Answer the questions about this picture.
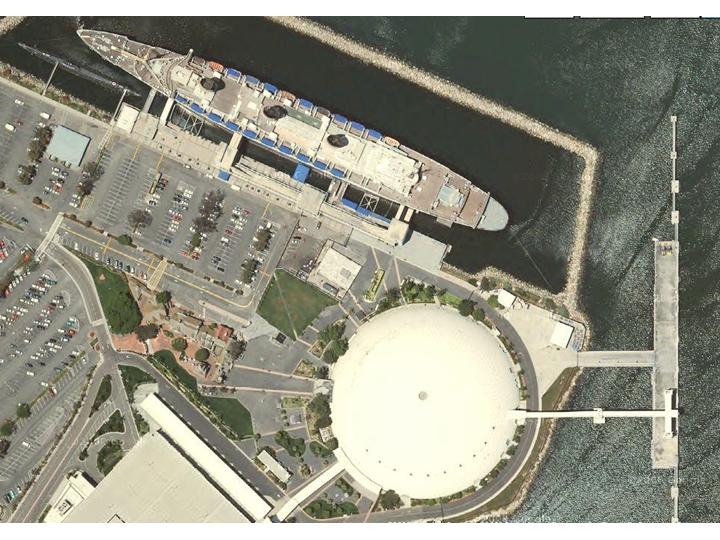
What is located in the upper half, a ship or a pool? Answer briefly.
ship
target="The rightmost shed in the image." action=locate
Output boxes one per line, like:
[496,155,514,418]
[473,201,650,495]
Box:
[550,322,573,349]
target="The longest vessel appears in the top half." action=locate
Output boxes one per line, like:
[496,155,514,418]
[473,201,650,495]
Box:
[76,25,508,231]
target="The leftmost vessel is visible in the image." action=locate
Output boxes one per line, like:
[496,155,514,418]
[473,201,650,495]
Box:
[22,46,132,93]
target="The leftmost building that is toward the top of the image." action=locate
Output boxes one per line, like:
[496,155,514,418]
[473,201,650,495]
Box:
[48,124,91,167]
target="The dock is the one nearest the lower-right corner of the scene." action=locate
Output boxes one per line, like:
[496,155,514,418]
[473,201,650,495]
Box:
[653,241,680,468]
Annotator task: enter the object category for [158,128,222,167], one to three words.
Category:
building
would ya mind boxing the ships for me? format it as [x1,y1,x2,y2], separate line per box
[22,46,132,93]
[76,25,508,231]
